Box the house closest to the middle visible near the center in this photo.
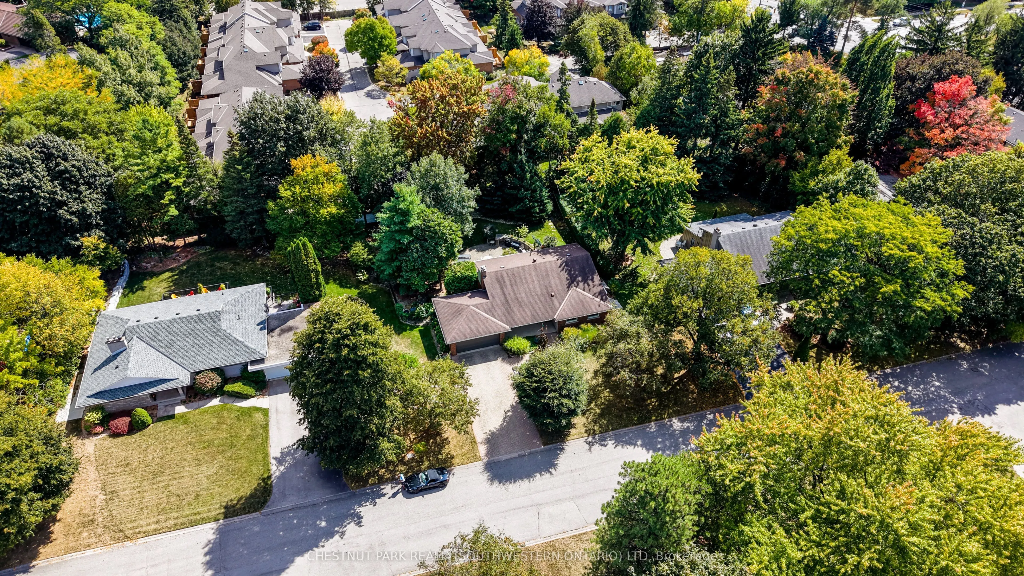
[430,243,627,355]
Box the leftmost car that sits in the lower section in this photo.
[403,470,450,499]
